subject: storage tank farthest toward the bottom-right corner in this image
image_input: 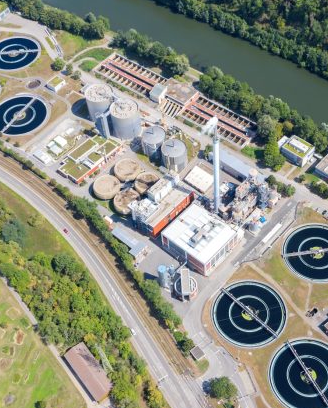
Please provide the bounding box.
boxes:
[268,338,328,408]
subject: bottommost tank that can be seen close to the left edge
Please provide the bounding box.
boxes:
[0,94,49,137]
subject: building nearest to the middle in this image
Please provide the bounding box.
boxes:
[131,171,193,236]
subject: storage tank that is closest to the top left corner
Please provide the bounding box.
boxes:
[0,36,41,71]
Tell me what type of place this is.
industrial area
